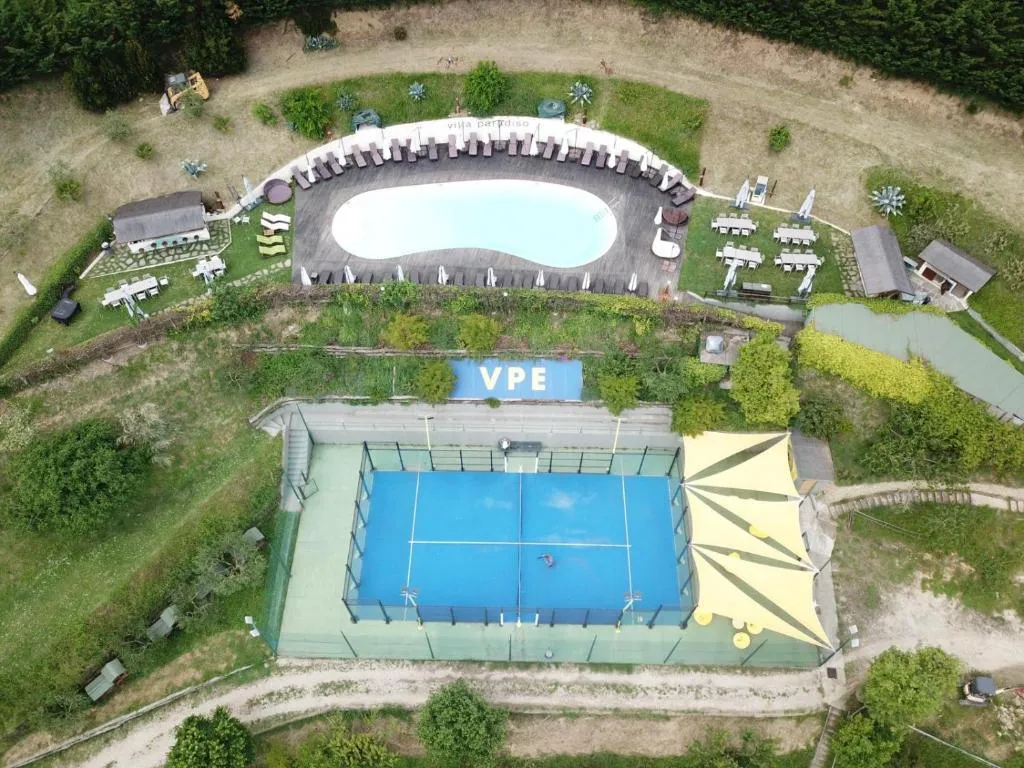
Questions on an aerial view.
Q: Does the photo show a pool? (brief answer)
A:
Yes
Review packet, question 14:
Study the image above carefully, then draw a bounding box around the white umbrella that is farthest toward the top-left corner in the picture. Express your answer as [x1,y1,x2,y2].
[11,266,38,296]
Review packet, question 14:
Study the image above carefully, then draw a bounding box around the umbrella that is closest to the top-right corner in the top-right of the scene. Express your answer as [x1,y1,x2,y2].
[788,189,821,226]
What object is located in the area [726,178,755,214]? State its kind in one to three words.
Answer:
umbrella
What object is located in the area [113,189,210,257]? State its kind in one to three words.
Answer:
shed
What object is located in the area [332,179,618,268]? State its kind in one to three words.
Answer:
swimming pool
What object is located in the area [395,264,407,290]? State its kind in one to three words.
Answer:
umbrella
